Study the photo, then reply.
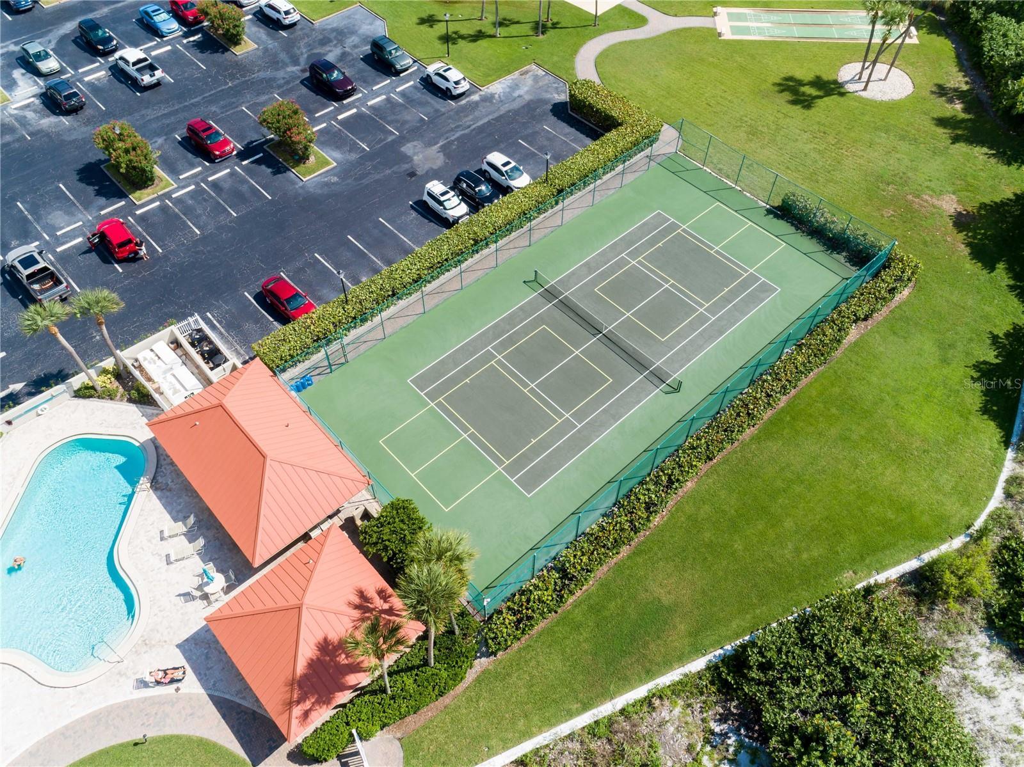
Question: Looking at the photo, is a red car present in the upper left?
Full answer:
Yes, in the upper left there is a red car.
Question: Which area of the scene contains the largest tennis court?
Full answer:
The largest tennis court is located in the center region of the scene.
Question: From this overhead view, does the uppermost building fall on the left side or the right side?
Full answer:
You can find the uppermost building on the left side of the picture.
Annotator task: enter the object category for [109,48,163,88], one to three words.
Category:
truck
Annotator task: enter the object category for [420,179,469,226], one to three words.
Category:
car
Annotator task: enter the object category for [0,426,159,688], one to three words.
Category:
swimming pool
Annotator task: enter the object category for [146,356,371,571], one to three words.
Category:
building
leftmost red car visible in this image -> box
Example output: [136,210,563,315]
[88,218,146,258]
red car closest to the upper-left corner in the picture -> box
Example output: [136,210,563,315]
[165,0,204,24]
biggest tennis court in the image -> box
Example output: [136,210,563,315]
[294,151,866,622]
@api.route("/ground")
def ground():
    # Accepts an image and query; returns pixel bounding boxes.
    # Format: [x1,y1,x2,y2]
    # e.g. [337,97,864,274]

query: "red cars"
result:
[88,218,146,258]
[259,275,314,325]
[187,119,235,163]
[165,0,204,24]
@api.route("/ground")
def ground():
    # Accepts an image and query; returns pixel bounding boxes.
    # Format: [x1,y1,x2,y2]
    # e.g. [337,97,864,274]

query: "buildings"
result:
[146,356,371,571]
[203,522,419,745]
